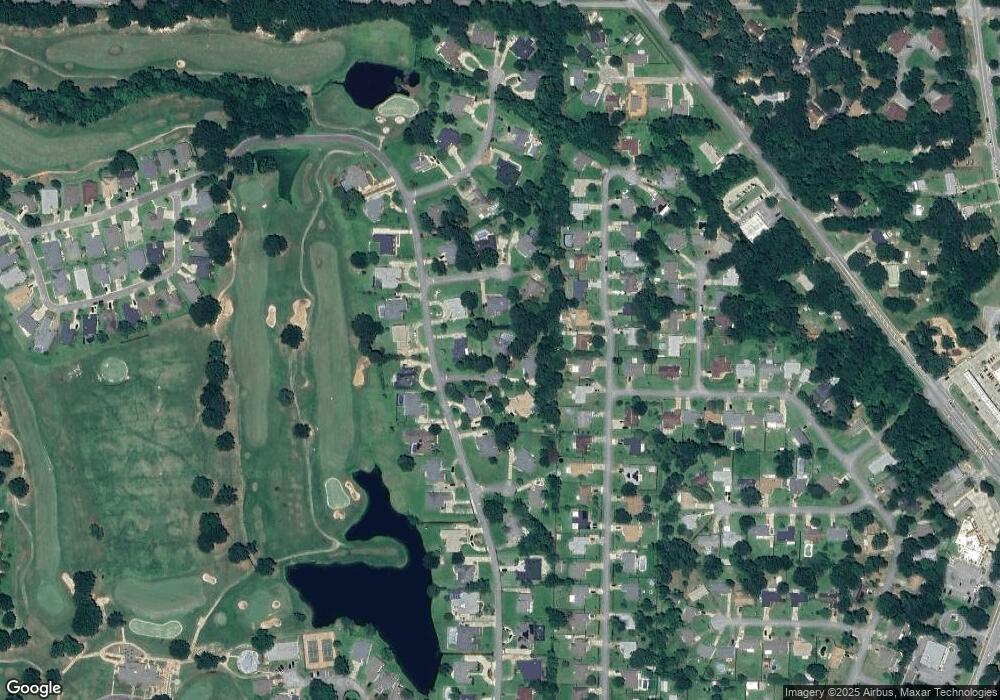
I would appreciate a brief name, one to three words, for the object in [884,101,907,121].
house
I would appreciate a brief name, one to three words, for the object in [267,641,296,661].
building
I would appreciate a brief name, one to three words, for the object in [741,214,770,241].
building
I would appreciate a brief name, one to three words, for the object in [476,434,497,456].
house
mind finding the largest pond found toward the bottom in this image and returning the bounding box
[286,463,441,694]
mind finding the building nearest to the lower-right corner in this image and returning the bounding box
[919,640,948,672]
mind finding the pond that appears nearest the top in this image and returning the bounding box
[345,62,404,109]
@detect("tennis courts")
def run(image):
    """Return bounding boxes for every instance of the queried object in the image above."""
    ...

[307,638,319,664]
[320,638,333,662]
